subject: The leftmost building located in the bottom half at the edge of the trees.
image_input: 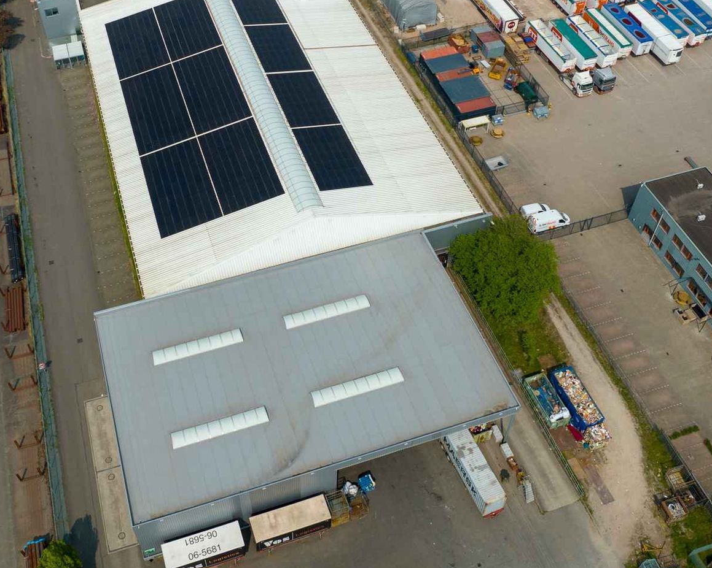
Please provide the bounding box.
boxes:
[96,228,545,553]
